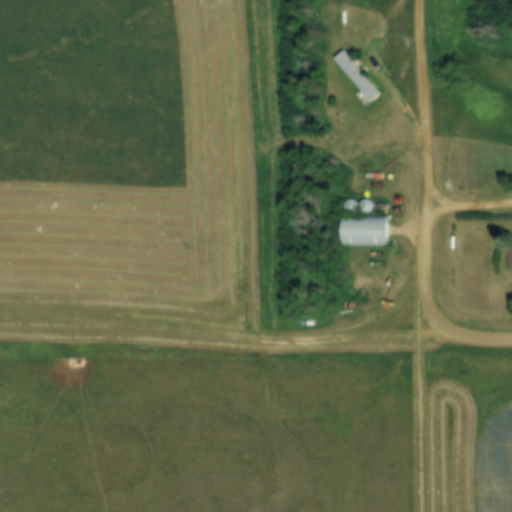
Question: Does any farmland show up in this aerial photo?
Yes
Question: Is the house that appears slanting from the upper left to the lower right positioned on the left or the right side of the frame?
right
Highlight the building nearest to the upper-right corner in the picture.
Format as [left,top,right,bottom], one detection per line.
[334,50,380,104]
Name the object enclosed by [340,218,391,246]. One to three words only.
building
